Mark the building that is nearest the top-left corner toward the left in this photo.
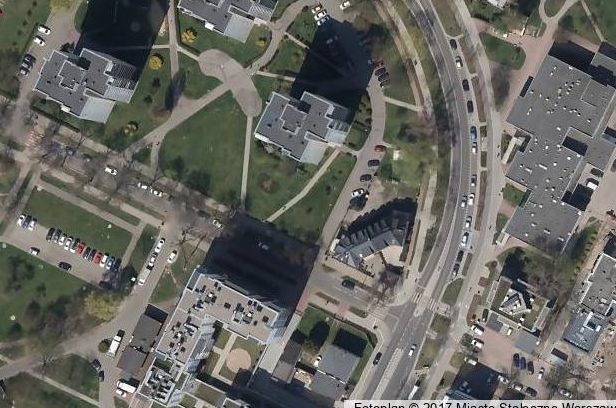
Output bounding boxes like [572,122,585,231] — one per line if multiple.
[34,48,141,119]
